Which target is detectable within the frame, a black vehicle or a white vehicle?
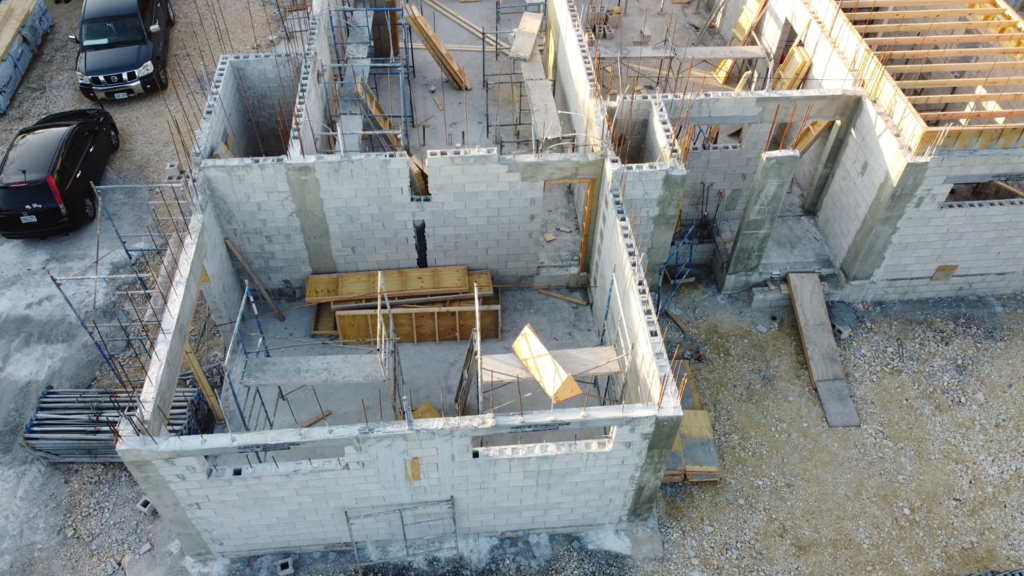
black vehicle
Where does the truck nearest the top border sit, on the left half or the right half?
left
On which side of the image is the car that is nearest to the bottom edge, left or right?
left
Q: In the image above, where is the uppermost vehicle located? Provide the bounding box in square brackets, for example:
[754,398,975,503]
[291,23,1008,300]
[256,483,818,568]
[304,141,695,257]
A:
[59,0,173,101]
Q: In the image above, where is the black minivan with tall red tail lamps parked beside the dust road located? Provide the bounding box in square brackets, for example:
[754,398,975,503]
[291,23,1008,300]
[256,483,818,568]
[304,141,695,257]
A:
[0,110,119,246]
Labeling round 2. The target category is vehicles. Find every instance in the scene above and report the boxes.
[0,110,119,246]
[59,0,173,101]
